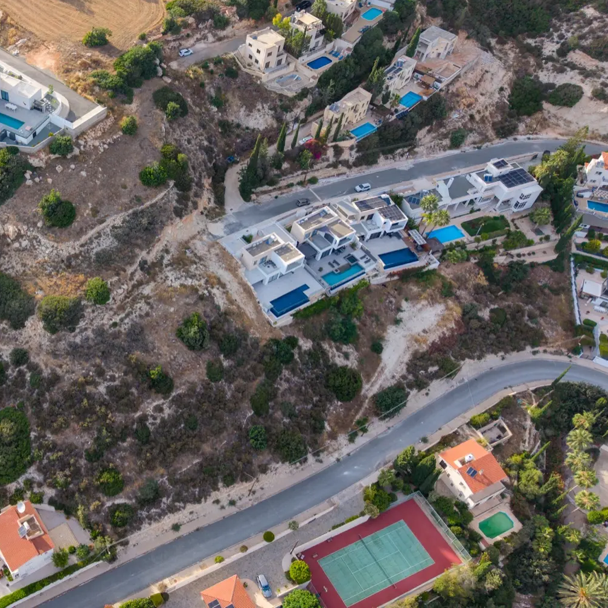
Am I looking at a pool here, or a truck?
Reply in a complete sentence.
There is a pool in the scene.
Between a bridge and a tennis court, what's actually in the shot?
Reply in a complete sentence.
The one in the frame is a tennis court.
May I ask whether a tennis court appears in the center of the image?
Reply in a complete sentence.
No, no tennis court is visible in the center of the image.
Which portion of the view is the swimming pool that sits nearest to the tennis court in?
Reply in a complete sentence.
The swimming pool that sits nearest to the tennis court is located in the bottom right region of the scene.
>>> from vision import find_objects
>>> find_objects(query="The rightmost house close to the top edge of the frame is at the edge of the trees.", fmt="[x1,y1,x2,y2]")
[414,27,457,59]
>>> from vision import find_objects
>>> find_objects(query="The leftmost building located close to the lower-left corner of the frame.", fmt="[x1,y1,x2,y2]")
[0,500,56,580]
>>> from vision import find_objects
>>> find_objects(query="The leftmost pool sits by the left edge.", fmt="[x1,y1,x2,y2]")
[0,112,25,129]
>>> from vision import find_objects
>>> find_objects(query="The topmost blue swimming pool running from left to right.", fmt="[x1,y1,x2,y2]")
[306,56,333,70]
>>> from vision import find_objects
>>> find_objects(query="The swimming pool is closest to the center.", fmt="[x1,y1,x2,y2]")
[270,283,310,315]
